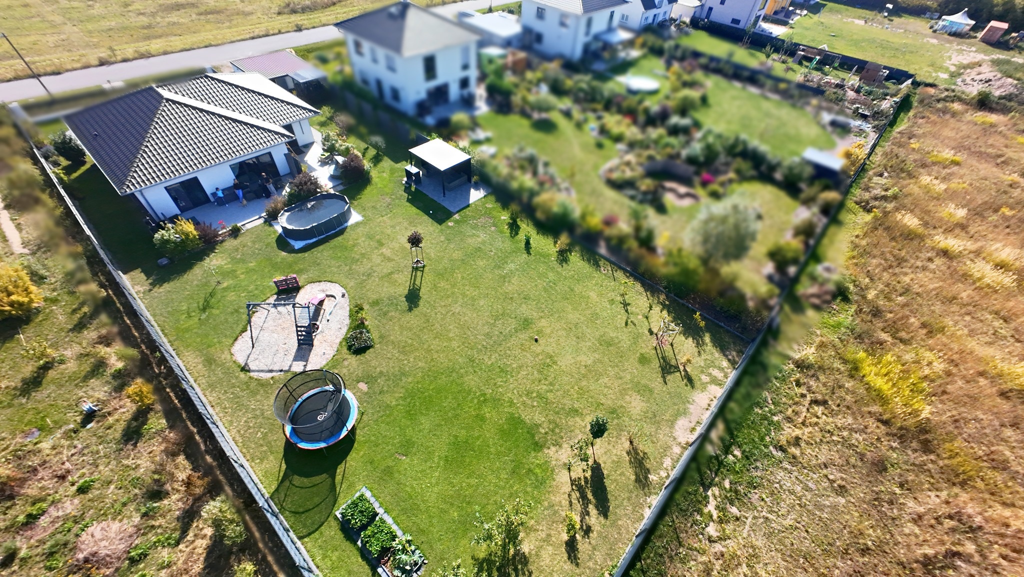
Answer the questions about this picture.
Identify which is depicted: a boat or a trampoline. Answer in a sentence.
Of the two, only a trampoline appears.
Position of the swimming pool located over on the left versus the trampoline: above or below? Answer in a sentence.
Within the scene, the swimming pool located over on the left can be found above the trampoline.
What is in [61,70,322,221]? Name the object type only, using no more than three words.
house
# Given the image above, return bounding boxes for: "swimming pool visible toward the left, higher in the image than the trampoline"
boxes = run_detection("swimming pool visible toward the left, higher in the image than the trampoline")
[278,193,352,242]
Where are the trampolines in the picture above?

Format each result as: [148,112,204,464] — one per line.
[272,369,370,462]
